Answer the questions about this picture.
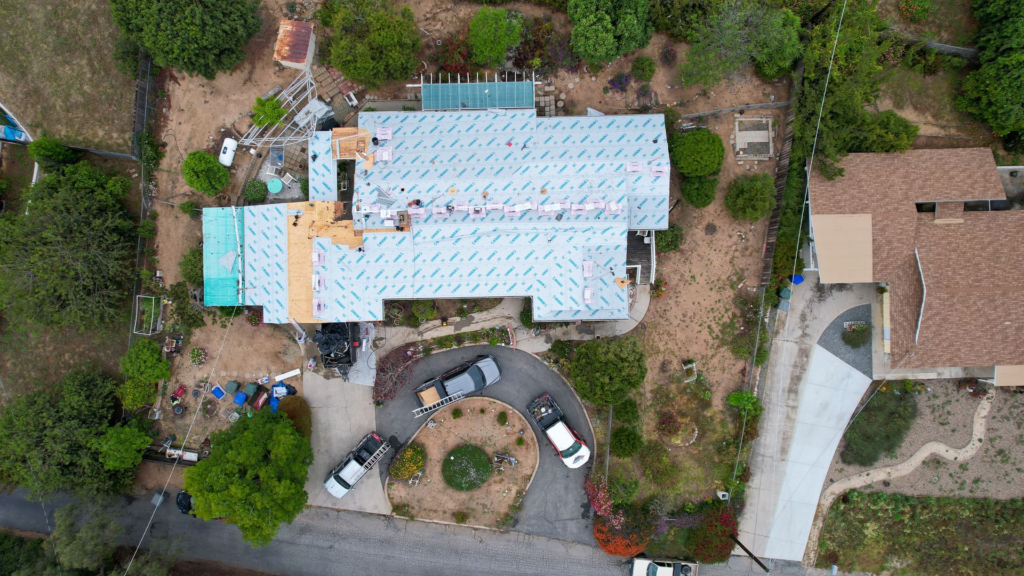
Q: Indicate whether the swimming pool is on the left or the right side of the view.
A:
left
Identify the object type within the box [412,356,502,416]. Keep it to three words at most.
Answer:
truck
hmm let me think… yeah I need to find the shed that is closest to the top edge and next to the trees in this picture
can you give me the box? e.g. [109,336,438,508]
[271,19,315,68]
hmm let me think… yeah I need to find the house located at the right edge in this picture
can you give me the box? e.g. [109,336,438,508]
[804,145,1024,386]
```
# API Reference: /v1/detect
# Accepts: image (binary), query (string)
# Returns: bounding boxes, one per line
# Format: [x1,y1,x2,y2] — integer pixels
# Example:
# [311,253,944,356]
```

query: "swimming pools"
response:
[0,100,37,145]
